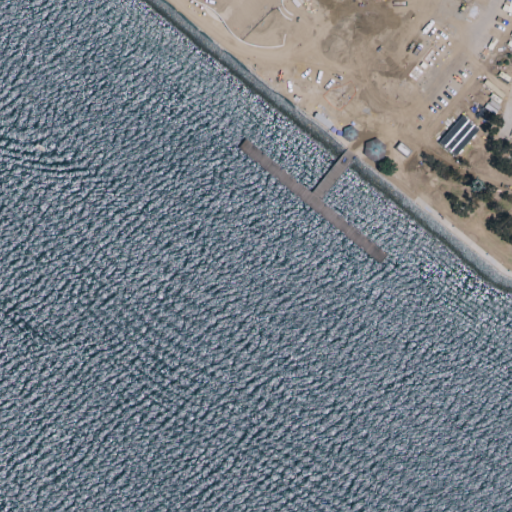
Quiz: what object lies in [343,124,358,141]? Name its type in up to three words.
gazebo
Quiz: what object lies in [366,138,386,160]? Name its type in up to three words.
gazebo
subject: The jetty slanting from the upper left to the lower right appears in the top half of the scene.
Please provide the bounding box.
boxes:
[240,140,386,261]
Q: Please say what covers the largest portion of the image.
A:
water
